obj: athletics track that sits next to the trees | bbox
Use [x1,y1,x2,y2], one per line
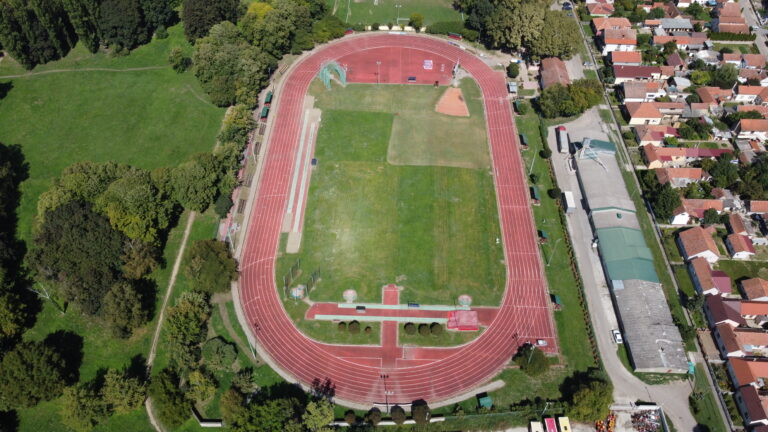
[226,30,561,419]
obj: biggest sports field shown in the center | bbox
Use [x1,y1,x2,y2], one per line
[274,46,507,368]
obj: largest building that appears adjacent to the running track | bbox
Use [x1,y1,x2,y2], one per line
[569,136,691,379]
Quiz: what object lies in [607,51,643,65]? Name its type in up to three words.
house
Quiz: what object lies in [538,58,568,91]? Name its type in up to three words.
building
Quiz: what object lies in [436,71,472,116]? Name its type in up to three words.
sports field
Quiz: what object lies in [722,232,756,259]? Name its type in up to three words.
house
